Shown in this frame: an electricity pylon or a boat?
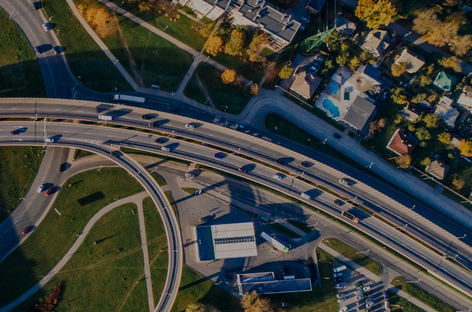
electricity pylon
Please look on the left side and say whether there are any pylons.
No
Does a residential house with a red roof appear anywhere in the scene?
Yes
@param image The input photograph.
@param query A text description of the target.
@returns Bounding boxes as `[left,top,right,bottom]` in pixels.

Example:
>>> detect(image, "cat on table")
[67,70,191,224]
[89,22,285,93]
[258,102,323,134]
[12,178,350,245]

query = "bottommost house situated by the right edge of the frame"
[424,158,450,180]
